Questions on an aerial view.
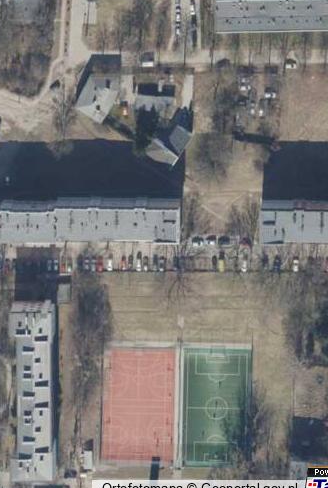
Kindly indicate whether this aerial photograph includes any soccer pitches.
Yes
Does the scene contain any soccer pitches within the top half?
No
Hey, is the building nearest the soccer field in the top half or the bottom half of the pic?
bottom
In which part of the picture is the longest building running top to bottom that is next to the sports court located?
bottom left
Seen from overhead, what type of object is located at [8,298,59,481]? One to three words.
building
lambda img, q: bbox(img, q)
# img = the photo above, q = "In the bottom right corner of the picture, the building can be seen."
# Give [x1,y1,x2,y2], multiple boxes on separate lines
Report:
[285,455,327,488]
